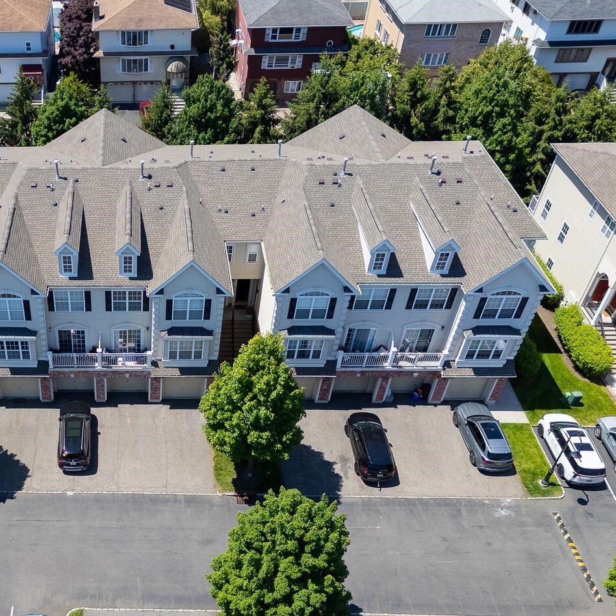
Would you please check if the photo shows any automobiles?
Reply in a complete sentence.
Yes, there's an automobile here.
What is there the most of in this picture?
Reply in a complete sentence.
The scene is dominated by buildings.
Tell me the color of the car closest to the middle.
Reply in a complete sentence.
The color of the car closest to the middle is black.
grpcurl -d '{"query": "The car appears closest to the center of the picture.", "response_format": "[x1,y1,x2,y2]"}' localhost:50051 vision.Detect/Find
[344,412,397,484]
